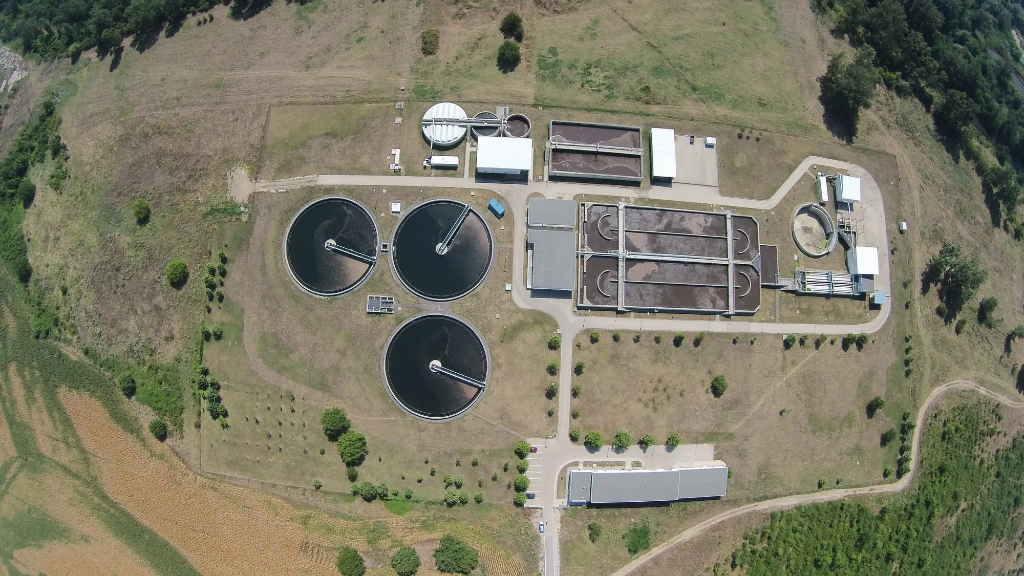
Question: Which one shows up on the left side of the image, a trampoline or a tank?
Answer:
tank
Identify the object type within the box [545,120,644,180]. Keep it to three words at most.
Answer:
storage tank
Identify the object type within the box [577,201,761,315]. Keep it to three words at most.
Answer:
storage tank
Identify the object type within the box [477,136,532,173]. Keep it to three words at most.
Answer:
house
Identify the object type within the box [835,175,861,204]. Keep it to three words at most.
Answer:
building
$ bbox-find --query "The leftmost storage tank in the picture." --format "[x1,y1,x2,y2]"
[284,194,382,299]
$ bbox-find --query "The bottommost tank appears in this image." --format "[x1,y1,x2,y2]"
[383,311,491,422]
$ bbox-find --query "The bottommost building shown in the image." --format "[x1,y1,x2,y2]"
[568,464,727,507]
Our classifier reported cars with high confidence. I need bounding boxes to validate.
[528,447,540,453]
[525,493,536,500]
[539,521,545,534]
